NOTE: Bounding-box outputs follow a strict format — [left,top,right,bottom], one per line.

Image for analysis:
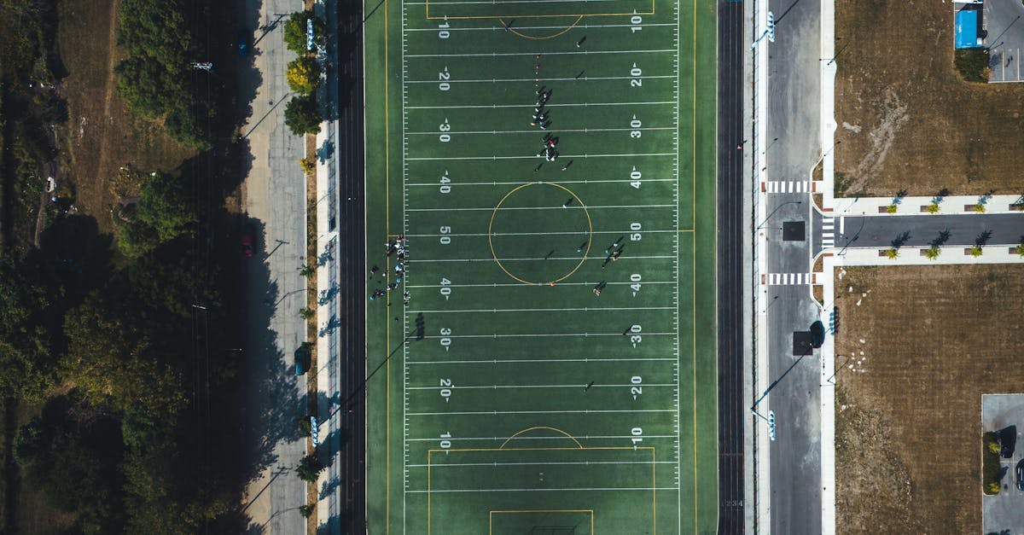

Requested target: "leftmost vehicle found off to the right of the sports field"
[810,327,823,351]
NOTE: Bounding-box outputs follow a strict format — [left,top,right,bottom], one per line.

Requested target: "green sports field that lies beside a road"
[364,0,717,535]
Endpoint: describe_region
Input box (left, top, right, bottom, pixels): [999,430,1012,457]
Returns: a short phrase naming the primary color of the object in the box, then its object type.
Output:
black vehicle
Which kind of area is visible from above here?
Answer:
sports ground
